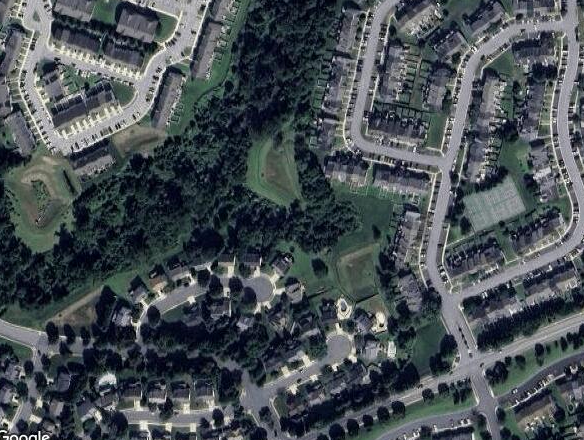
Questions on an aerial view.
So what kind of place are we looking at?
residential area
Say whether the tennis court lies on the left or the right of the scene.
right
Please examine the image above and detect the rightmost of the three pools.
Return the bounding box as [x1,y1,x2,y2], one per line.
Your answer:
[373,310,388,332]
